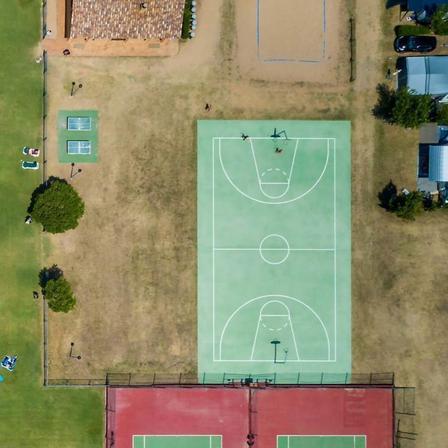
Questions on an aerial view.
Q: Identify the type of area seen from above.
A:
sports ground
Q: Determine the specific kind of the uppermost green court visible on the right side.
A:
basketball court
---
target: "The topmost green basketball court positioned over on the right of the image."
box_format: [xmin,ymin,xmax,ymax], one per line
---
[197,121,351,383]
